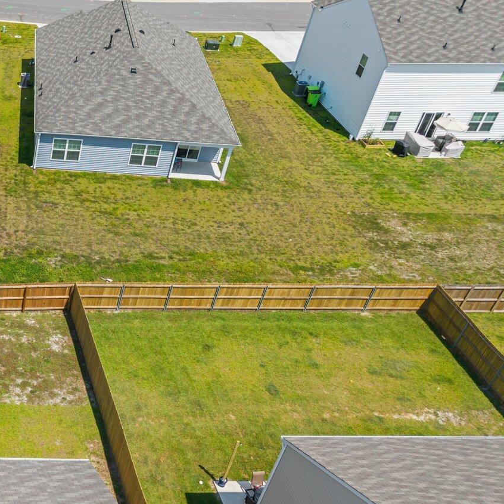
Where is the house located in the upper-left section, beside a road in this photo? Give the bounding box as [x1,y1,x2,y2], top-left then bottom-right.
[32,0,243,180]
